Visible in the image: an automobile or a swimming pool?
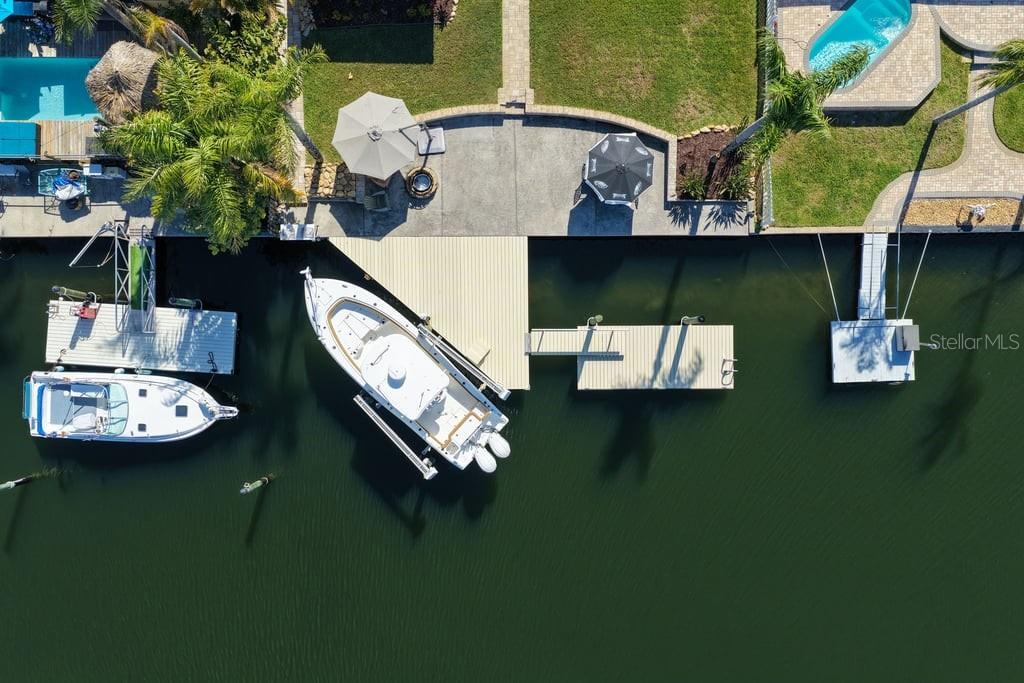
swimming pool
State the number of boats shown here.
2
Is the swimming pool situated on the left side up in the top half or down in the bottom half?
top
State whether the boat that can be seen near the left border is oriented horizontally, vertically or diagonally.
horizontally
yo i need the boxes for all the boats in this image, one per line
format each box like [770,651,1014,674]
[23,372,237,443]
[296,272,514,473]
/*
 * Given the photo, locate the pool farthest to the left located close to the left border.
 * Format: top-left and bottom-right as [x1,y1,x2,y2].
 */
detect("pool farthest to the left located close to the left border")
[0,56,103,122]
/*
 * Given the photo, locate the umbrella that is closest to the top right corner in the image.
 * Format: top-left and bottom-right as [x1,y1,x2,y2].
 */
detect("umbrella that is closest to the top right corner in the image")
[584,134,654,203]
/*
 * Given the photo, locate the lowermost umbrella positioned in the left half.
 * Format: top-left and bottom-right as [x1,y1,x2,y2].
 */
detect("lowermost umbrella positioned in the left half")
[332,92,445,180]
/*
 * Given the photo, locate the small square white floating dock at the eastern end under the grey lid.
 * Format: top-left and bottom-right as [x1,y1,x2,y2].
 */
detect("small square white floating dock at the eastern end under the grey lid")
[832,320,915,383]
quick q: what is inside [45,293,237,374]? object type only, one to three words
pier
